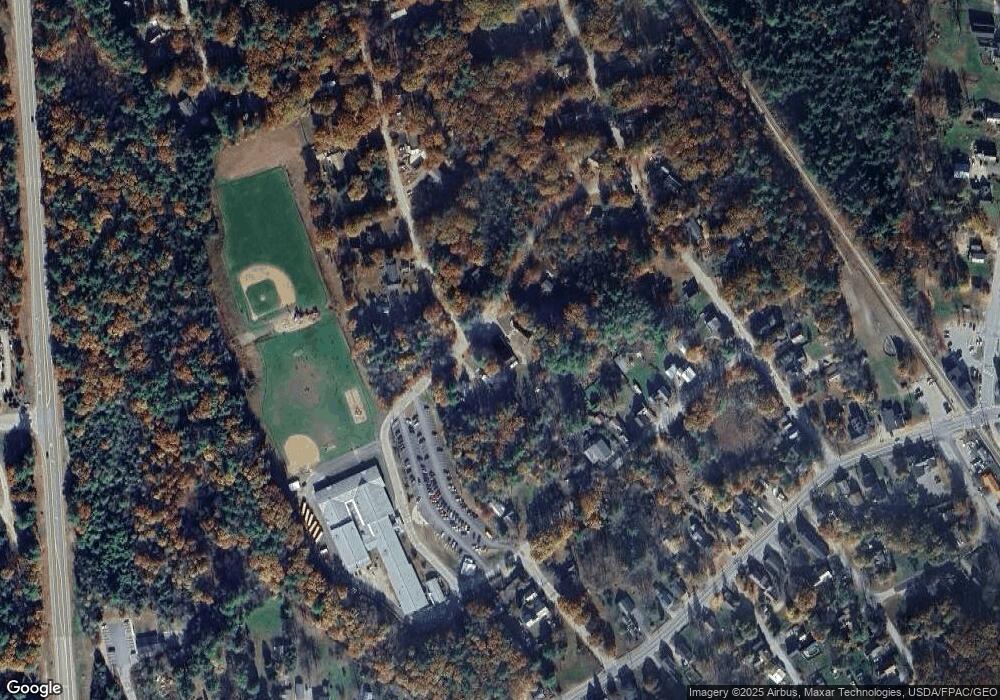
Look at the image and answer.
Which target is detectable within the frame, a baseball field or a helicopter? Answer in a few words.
baseball field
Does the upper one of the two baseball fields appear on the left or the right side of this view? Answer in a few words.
left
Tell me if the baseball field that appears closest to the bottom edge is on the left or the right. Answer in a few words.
left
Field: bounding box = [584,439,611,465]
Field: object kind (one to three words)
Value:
house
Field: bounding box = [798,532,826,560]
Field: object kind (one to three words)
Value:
house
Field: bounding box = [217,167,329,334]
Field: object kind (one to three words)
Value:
baseball field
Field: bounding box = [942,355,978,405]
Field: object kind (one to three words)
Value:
building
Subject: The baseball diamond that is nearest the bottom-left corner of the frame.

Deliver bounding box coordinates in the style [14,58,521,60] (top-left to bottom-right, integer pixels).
[258,316,379,472]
